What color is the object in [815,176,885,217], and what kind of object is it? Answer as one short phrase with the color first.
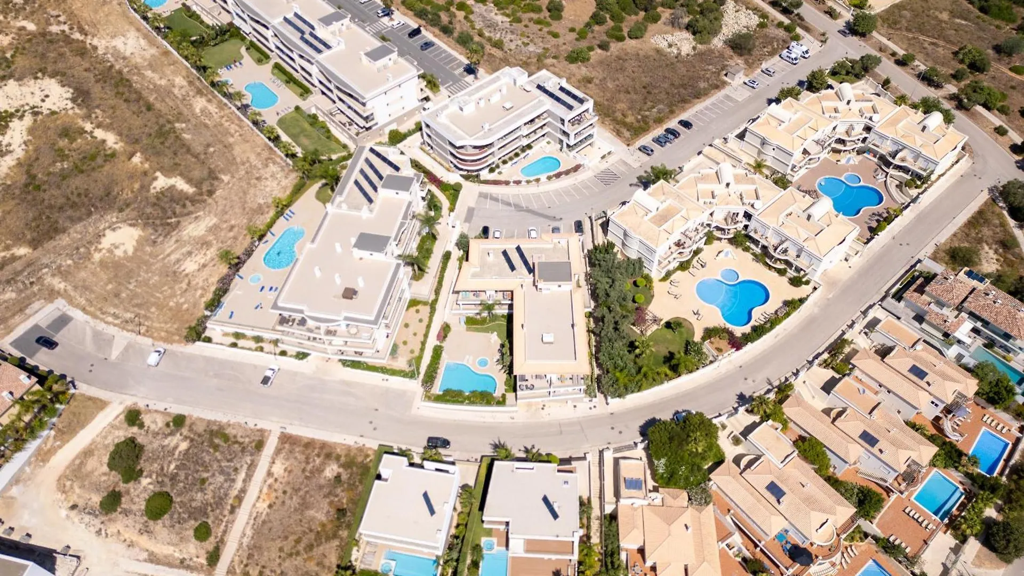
blue swimming pool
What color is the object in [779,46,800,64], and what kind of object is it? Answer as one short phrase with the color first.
white vehicle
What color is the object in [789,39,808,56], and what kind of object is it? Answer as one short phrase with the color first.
white vehicle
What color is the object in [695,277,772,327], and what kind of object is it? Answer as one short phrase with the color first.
blue swimming pool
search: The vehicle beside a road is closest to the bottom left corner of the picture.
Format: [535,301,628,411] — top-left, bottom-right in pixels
[34,335,60,350]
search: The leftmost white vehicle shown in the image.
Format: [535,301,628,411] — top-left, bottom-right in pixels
[143,345,167,367]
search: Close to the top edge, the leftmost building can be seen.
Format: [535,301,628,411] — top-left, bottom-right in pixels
[208,0,427,142]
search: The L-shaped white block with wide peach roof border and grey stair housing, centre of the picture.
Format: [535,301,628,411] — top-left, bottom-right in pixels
[451,234,591,406]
